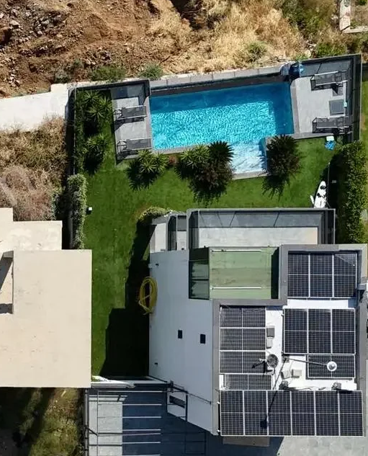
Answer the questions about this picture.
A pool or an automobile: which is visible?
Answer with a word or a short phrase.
pool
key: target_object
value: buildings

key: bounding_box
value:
[143,208,367,446]
[0,207,91,387]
